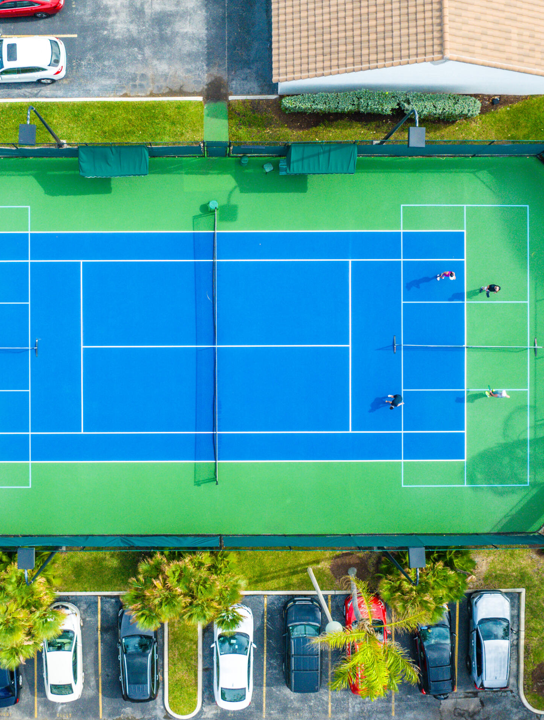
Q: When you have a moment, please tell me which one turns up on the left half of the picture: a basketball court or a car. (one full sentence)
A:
Visible on the left half of the picture is a car.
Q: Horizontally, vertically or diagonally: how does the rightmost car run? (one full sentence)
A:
Seen from above, the rightmost car lies vertically.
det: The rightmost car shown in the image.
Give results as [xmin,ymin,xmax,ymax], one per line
[464,588,517,695]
